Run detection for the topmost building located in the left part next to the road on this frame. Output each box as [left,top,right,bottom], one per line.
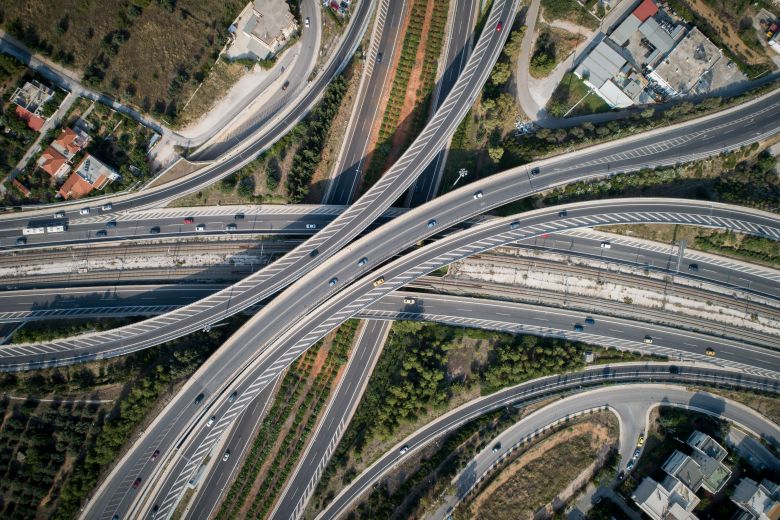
[242,0,302,65]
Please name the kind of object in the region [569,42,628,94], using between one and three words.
building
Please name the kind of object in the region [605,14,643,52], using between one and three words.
building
